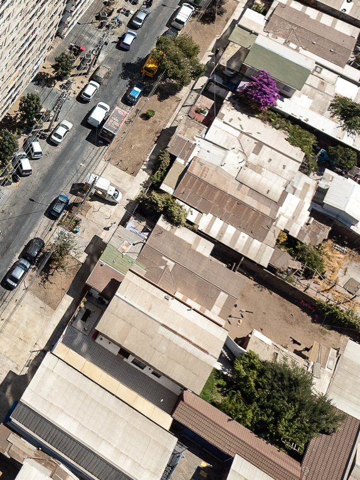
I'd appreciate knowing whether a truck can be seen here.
Yes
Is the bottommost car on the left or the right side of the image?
left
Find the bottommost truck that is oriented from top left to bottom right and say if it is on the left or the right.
left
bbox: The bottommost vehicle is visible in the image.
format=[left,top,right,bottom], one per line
[4,259,32,289]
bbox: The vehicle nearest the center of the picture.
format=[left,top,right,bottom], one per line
[86,171,126,208]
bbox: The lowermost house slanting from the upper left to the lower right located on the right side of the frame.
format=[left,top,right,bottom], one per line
[169,388,304,480]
